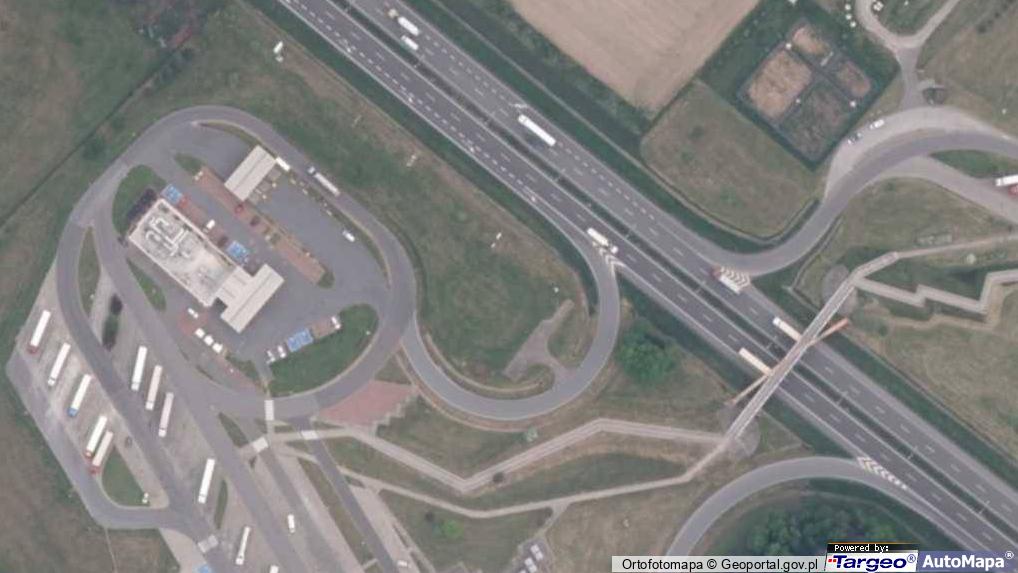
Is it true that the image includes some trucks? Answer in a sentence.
Yes, there's a truck down there.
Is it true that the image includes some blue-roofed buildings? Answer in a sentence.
No, there appears to be no blue-roofed building in this shot.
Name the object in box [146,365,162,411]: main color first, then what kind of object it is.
white vehicle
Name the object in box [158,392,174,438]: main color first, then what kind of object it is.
white vehicle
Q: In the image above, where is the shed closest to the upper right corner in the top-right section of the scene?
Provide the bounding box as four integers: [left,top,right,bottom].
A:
[924,86,948,103]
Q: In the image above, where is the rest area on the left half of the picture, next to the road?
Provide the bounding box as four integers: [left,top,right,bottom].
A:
[5,103,419,573]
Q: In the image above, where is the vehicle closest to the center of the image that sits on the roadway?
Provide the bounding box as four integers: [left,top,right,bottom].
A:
[587,227,620,256]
